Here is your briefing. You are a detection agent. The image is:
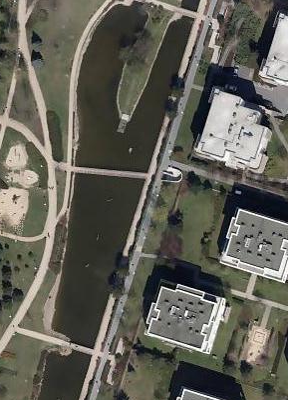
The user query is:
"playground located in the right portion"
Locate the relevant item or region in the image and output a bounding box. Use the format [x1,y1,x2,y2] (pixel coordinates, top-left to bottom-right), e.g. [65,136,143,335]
[243,321,270,364]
